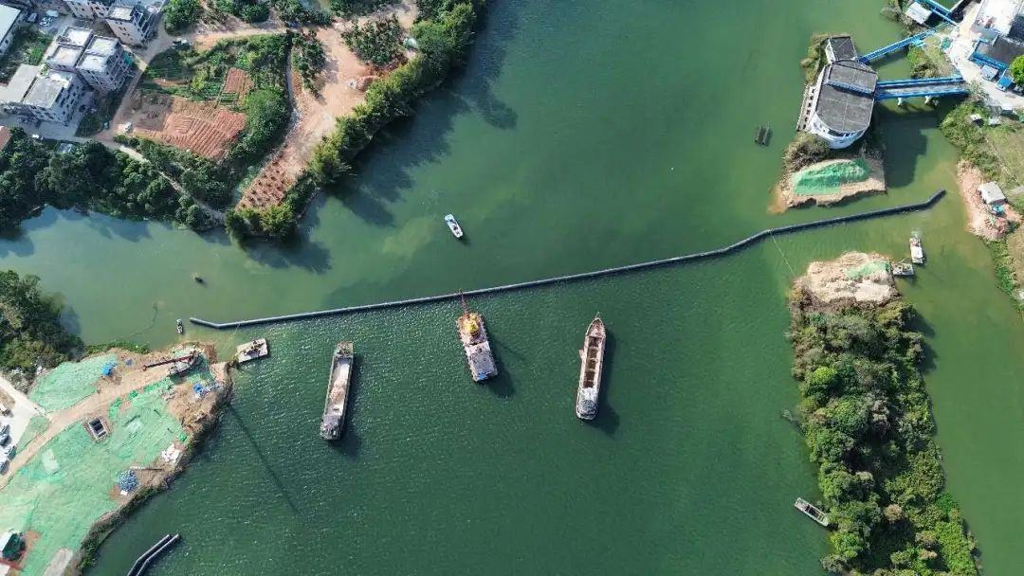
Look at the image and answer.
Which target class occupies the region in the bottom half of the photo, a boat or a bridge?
boat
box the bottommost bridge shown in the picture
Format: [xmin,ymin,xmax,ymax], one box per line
[874,77,968,109]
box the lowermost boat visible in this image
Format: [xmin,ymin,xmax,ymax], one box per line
[794,498,826,528]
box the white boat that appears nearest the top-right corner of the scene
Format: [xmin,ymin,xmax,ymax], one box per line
[910,237,926,264]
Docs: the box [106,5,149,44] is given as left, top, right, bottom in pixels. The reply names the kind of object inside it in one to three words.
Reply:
house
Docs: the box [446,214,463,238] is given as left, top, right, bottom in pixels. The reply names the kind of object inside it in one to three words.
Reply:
boat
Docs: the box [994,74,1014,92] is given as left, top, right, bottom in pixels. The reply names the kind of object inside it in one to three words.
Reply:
vehicle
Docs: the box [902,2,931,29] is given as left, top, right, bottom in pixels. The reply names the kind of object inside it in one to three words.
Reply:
shed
